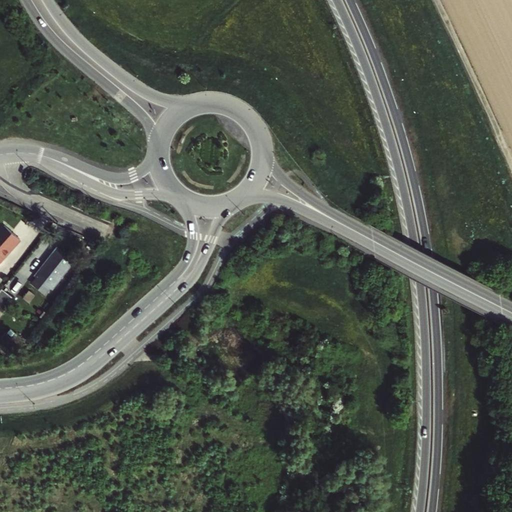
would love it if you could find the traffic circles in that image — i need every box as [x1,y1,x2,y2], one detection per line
[147,91,274,218]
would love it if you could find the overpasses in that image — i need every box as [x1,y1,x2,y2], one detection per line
[326,205,512,324]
